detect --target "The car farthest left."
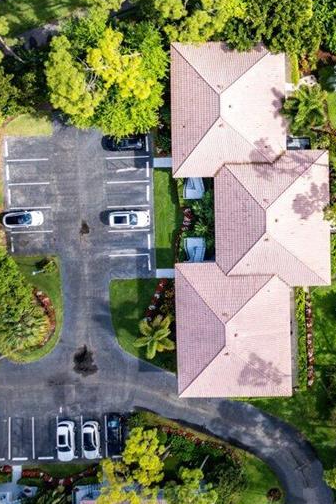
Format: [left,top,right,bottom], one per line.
[3,210,46,229]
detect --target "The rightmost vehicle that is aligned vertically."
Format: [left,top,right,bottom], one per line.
[103,413,124,456]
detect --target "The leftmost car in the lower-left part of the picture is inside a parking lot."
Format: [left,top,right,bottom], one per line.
[55,419,78,461]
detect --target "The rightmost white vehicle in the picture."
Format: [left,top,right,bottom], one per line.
[109,209,152,229]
